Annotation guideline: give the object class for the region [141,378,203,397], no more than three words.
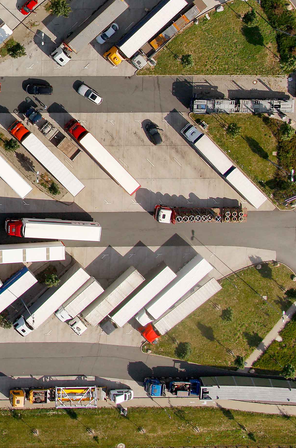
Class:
vehicle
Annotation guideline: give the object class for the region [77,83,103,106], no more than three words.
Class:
car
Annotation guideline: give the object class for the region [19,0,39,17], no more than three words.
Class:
car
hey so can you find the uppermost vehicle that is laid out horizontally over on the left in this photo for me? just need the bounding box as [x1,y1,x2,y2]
[26,83,54,95]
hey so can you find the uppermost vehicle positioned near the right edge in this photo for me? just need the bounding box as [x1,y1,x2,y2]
[185,97,295,115]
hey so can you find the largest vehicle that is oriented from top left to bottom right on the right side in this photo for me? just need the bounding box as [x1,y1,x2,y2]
[177,120,267,209]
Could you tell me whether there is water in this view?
No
